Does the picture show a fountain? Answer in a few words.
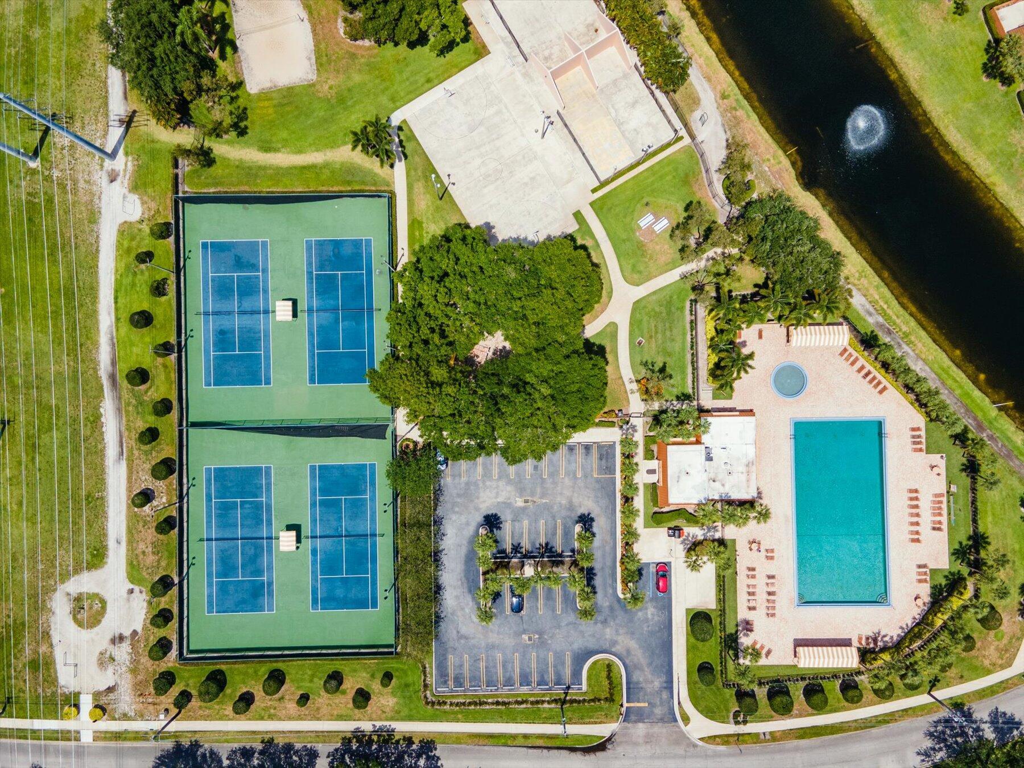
Yes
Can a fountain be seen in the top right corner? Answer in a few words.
Yes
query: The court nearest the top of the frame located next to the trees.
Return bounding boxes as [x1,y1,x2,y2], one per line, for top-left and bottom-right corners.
[231,0,316,92]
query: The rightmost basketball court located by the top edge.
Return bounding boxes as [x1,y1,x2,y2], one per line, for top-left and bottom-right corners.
[405,0,690,268]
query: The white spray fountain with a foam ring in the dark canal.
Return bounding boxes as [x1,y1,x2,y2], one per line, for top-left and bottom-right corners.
[848,107,890,149]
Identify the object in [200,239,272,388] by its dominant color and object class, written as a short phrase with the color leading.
blue tennis court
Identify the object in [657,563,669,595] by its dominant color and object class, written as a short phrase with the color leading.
red vehicle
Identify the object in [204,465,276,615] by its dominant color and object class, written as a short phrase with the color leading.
blue tennis court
